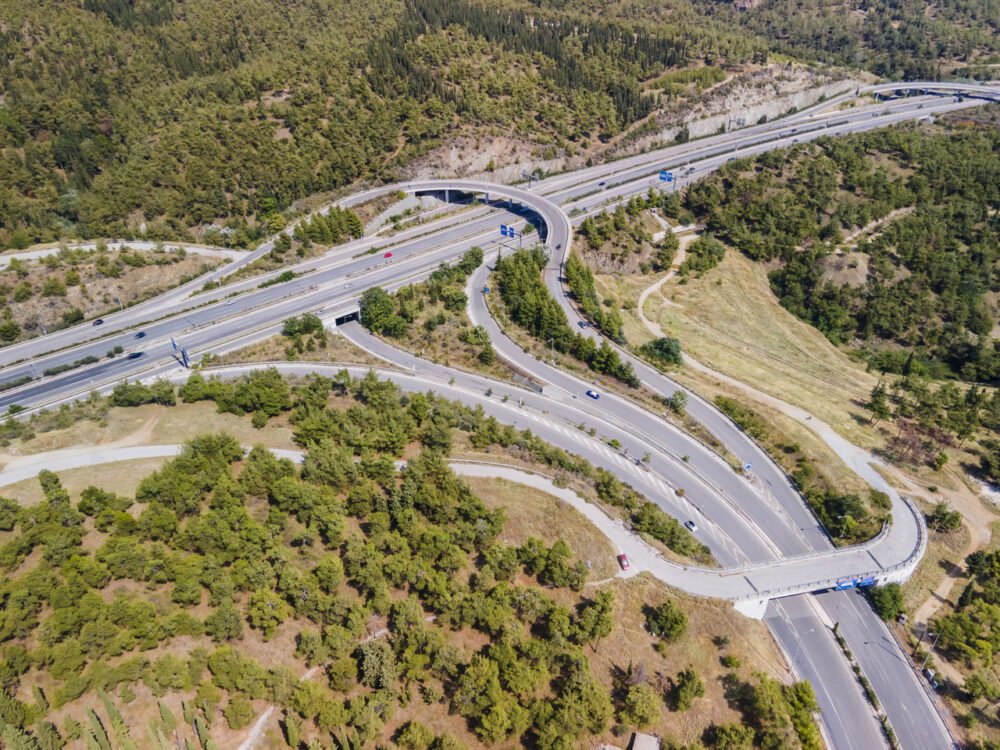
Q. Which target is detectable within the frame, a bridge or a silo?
bridge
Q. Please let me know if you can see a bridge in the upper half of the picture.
Yes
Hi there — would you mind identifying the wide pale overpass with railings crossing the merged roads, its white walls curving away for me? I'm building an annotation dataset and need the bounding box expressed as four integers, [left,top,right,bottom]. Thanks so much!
[723,461,922,619]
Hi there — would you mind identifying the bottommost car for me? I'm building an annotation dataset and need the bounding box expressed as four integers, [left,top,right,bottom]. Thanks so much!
[615,554,629,572]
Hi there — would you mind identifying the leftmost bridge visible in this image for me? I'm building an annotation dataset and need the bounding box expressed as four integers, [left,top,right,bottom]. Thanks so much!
[413,178,571,259]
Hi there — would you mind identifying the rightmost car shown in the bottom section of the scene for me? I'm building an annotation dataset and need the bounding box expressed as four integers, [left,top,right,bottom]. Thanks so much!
[682,519,699,534]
